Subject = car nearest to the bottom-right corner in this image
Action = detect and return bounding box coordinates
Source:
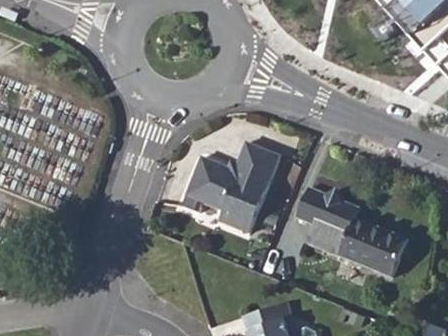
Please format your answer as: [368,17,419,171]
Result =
[282,256,294,277]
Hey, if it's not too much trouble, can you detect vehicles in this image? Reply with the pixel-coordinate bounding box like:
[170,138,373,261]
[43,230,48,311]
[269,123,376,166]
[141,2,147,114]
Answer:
[386,104,409,119]
[264,250,280,272]
[282,256,294,277]
[398,139,420,154]
[168,108,187,126]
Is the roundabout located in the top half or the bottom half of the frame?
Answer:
top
